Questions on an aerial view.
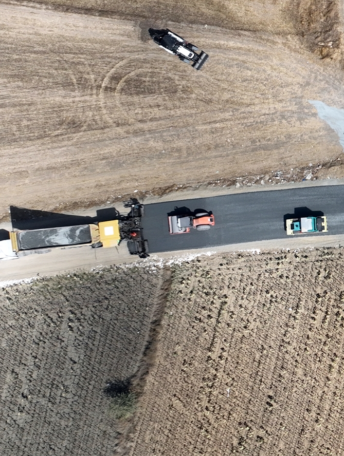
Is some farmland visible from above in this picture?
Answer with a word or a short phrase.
Yes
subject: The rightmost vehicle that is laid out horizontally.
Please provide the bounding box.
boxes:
[286,216,329,236]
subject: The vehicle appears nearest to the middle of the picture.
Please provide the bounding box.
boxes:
[170,212,218,234]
